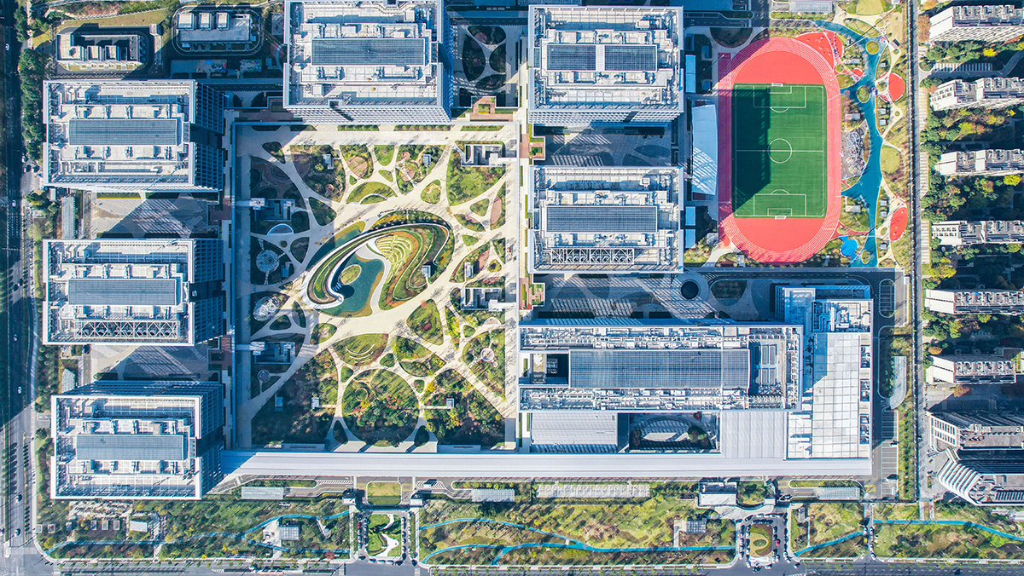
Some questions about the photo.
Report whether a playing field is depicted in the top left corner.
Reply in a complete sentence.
No, in the top left corner there is no playing field.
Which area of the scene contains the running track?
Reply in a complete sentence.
The running track sits in the top right section of the image.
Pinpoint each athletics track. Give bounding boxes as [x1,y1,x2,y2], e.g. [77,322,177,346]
[718,36,841,264]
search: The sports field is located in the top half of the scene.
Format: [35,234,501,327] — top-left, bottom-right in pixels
[733,83,827,218]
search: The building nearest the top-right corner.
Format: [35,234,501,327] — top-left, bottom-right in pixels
[927,5,1024,38]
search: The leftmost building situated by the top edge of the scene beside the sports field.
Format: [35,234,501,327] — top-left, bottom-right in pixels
[528,5,684,126]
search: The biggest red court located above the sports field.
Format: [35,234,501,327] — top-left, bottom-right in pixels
[795,31,833,65]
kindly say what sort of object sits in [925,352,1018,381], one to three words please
building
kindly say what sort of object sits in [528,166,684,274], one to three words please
building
